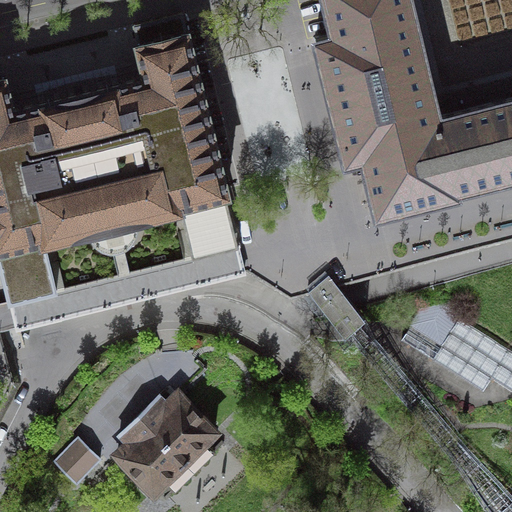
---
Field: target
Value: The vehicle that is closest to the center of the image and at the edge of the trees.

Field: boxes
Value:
[240,220,252,244]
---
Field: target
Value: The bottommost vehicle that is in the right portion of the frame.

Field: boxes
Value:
[330,256,346,278]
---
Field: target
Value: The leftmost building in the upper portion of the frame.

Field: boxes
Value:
[0,14,241,307]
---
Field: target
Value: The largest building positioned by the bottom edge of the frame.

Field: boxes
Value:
[110,384,226,503]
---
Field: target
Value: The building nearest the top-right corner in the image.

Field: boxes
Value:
[312,0,512,226]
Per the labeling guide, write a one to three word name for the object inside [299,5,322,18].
vehicle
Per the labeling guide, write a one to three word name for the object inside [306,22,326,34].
vehicle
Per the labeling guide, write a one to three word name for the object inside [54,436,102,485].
building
